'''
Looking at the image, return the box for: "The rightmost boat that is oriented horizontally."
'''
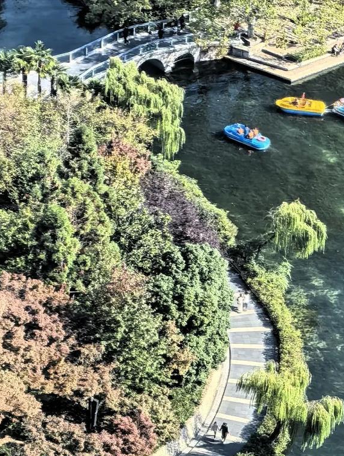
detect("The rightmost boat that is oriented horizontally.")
[279,101,324,119]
